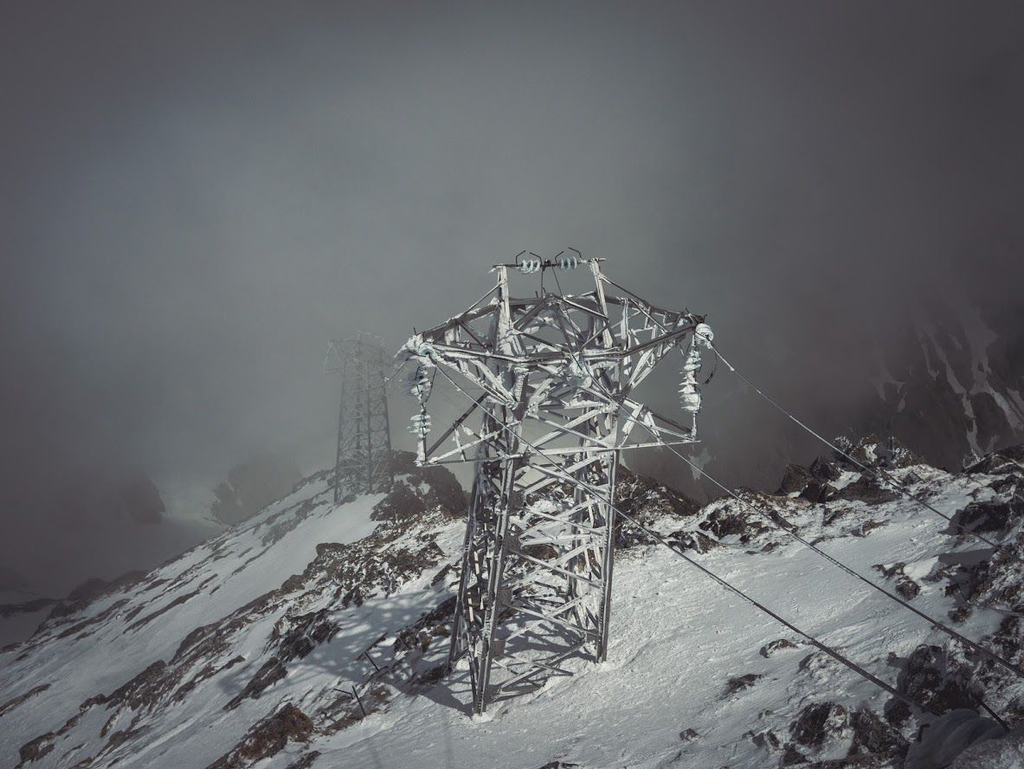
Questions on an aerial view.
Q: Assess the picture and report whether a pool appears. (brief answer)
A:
No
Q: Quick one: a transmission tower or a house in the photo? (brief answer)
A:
transmission tower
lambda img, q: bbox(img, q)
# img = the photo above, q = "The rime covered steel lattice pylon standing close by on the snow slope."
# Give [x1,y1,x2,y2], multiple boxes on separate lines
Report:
[408,260,708,711]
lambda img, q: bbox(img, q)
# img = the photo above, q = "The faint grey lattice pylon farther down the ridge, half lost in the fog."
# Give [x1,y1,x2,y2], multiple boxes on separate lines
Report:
[324,332,394,495]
